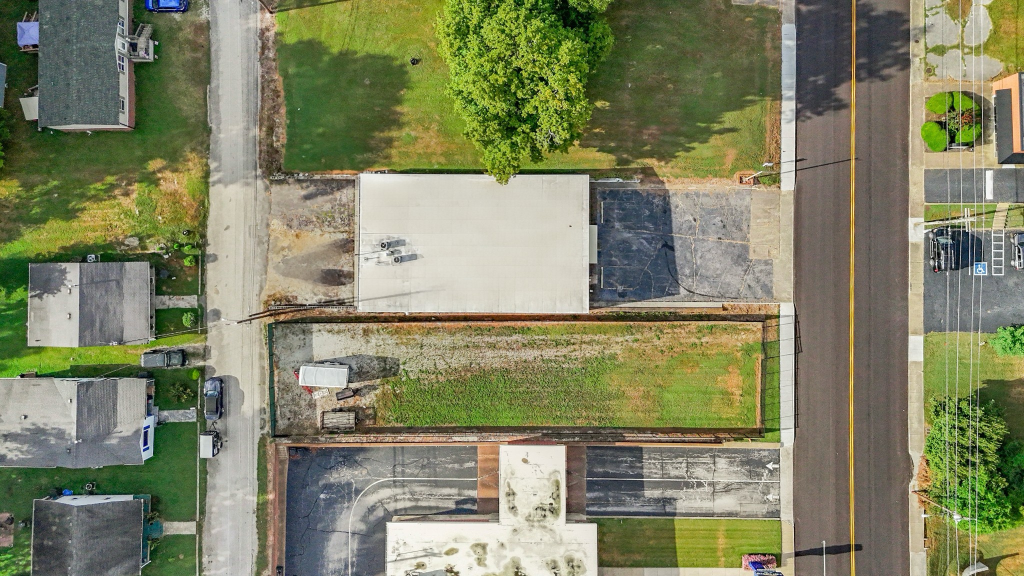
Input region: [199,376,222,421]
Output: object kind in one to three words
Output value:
car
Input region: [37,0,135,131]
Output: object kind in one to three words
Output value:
house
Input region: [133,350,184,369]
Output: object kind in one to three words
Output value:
car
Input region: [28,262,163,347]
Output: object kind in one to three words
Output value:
house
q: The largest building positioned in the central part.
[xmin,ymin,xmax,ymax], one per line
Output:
[354,174,597,316]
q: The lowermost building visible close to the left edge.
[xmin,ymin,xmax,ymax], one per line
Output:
[32,494,163,576]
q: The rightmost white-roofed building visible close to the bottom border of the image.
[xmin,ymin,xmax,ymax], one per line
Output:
[385,444,598,576]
